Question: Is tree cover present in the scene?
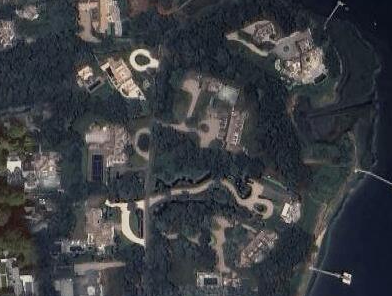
Yes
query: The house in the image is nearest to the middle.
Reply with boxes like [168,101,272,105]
[213,106,245,151]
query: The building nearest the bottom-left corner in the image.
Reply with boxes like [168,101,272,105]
[3,258,24,296]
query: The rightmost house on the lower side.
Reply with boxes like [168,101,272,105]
[281,198,303,226]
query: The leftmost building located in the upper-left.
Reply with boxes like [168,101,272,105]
[0,19,16,47]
